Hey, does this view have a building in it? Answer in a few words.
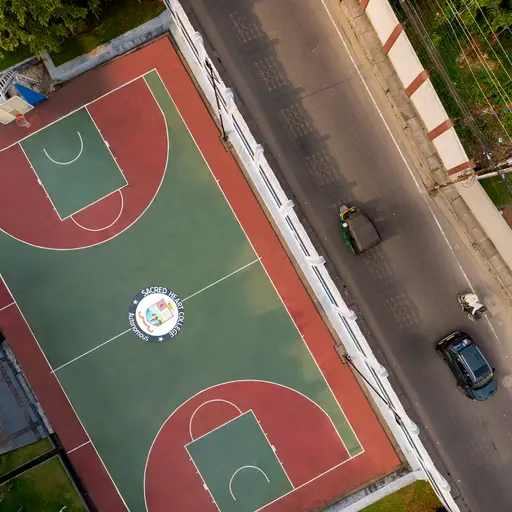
No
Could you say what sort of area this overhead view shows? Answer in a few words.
sports ground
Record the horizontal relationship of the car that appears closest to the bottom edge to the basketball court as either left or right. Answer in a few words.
to the right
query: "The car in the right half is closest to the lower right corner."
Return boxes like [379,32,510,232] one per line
[434,335,494,404]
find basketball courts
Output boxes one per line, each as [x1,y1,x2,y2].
[0,36,402,512]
